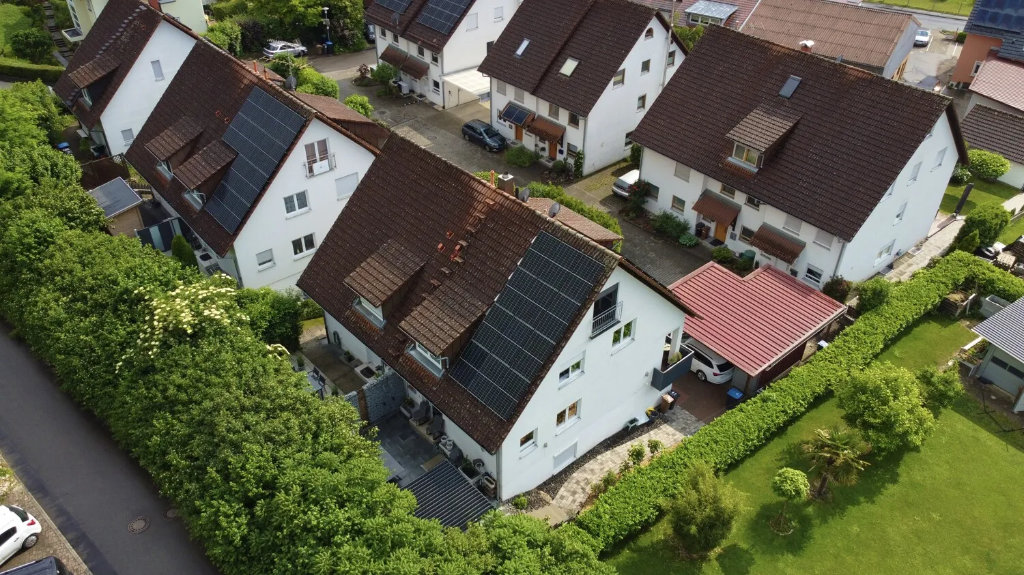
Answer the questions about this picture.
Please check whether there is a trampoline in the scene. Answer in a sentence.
No, the scene contains no trampoline.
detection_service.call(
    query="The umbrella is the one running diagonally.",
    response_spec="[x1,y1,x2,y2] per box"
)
[953,176,996,218]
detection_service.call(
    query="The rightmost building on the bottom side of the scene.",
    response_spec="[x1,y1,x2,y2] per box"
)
[973,297,1024,393]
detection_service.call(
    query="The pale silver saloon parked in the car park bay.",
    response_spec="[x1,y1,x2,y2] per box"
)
[913,25,936,48]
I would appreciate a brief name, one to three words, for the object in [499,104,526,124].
solar panel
